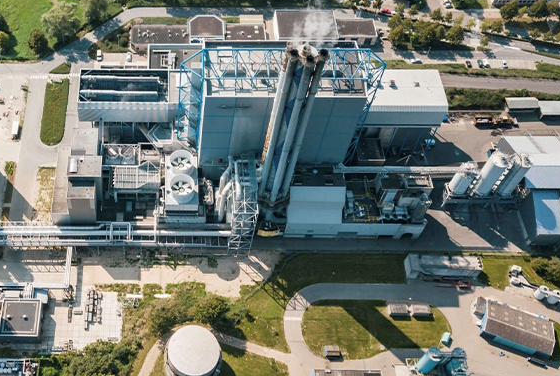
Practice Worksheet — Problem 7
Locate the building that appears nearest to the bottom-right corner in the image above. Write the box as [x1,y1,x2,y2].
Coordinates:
[475,299,559,365]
